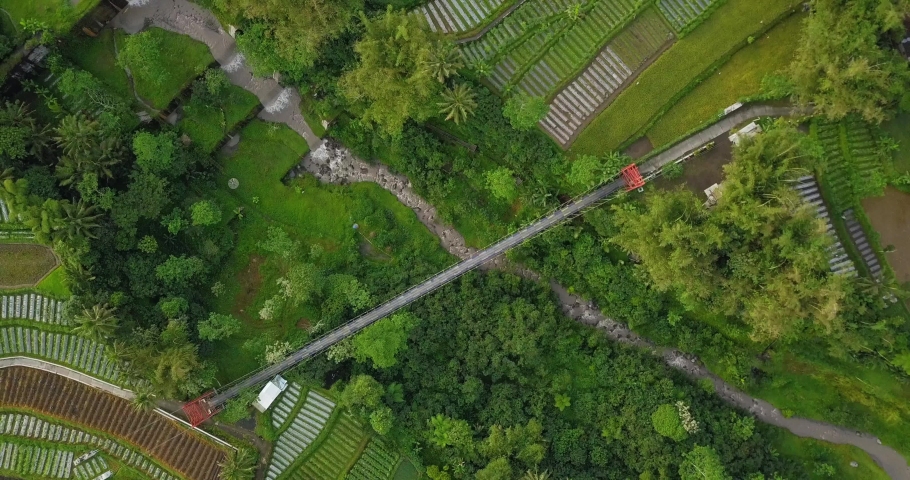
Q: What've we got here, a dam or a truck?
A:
dam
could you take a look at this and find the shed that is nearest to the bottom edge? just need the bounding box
[251,374,287,412]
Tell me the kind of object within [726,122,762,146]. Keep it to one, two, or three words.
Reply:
shed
